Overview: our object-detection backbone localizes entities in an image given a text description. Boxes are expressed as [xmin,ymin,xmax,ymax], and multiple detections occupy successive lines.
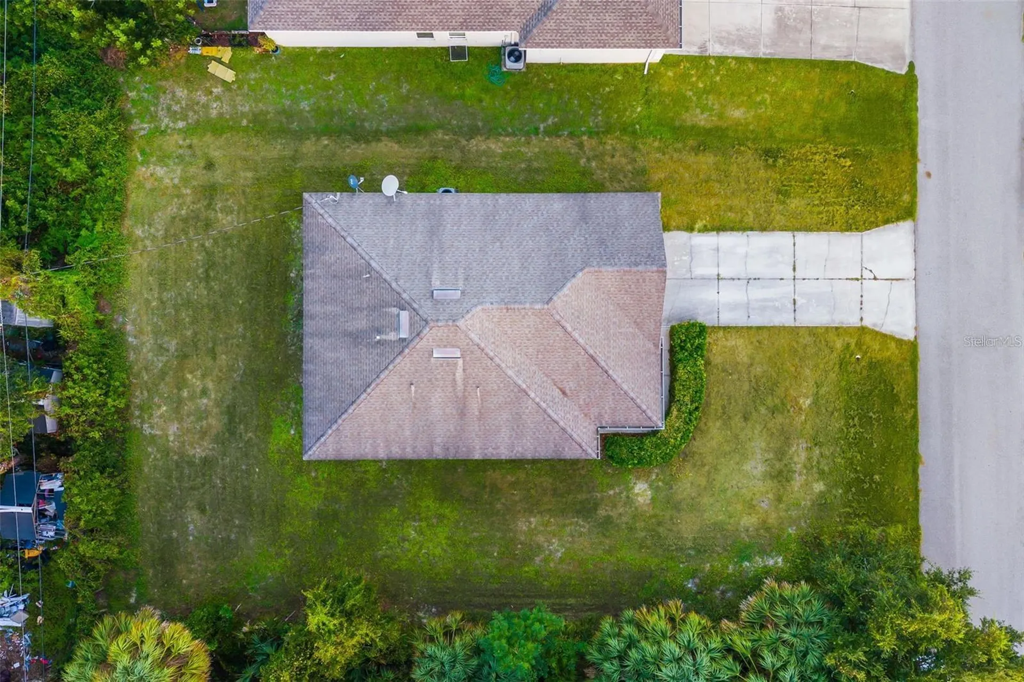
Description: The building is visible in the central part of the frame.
[301,189,669,460]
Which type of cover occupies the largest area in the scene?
grass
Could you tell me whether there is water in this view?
No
